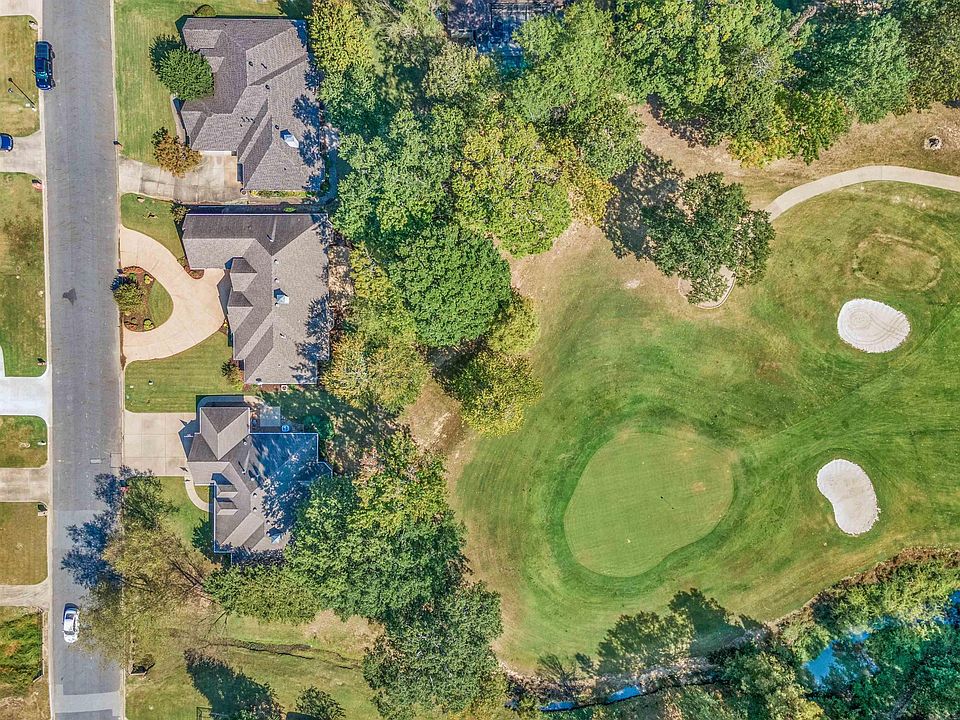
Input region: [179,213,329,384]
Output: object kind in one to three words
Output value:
house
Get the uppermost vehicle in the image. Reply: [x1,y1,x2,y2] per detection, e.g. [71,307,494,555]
[30,38,52,89]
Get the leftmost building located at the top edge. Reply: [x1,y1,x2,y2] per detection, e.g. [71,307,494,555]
[182,17,322,191]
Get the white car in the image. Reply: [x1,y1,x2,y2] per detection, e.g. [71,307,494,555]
[58,607,79,645]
